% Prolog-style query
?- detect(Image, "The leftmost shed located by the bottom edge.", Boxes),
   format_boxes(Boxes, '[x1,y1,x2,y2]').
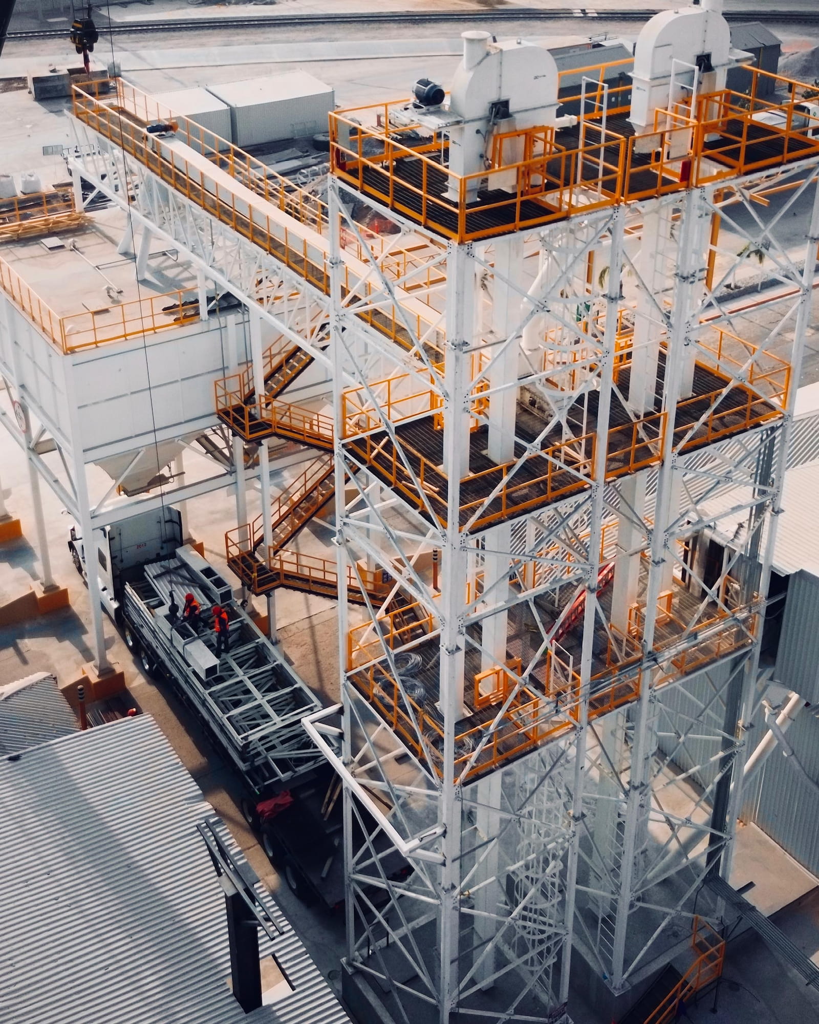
[0,708,350,1024]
